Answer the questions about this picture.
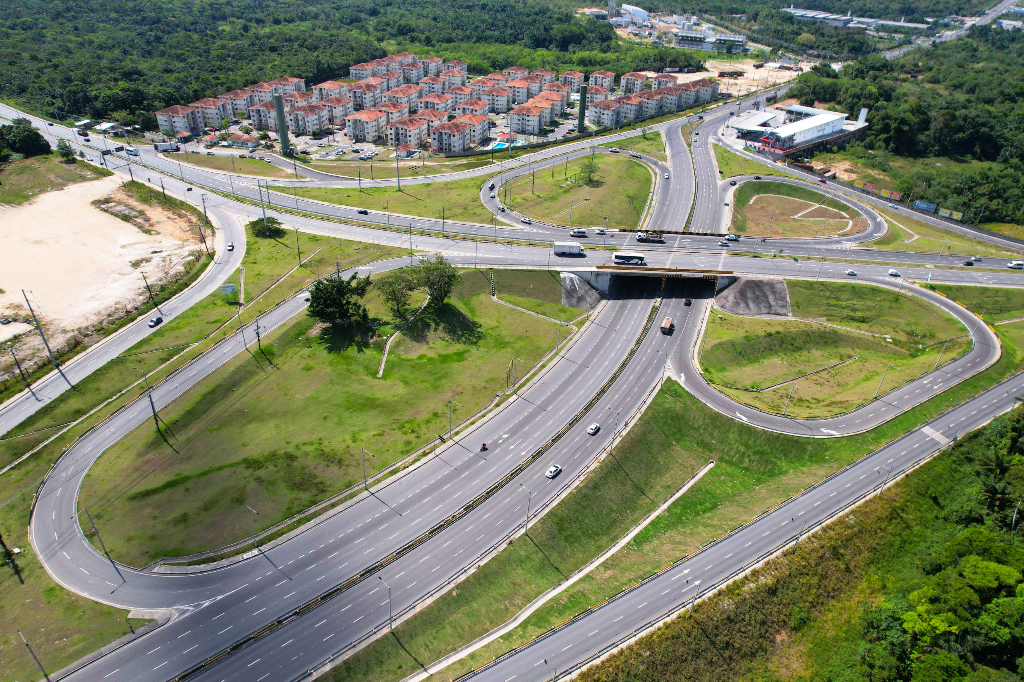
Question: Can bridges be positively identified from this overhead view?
Yes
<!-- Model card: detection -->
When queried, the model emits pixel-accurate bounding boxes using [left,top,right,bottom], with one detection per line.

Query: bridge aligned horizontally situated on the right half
[554,229,791,316]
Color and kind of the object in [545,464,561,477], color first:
white vehicle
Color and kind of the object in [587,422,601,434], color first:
white vehicle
